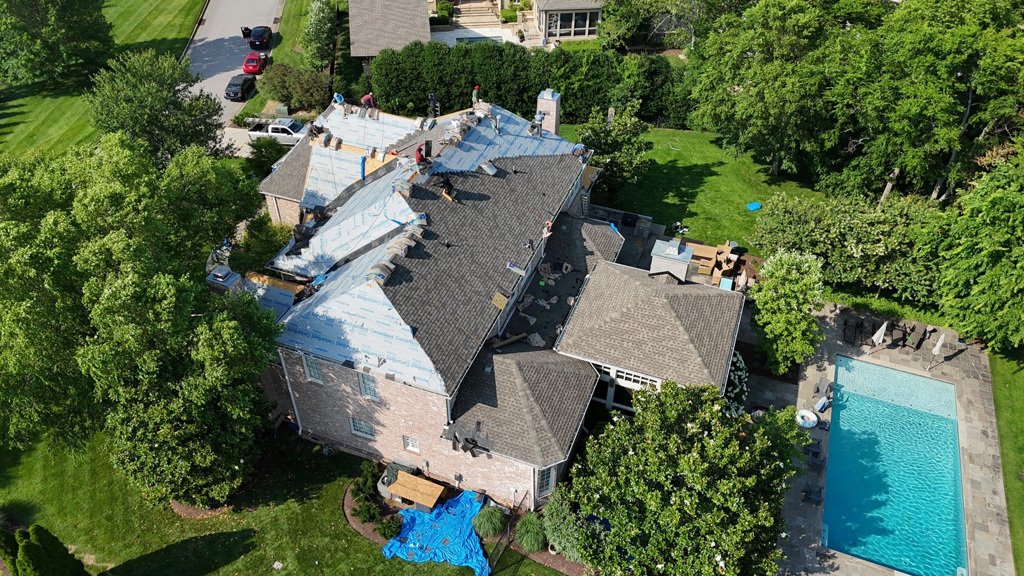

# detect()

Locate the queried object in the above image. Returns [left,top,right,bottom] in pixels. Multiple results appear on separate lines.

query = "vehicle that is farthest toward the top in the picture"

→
[241,26,275,51]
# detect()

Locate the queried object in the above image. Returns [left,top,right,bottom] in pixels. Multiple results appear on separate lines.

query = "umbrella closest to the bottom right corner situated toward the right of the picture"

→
[927,333,945,371]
